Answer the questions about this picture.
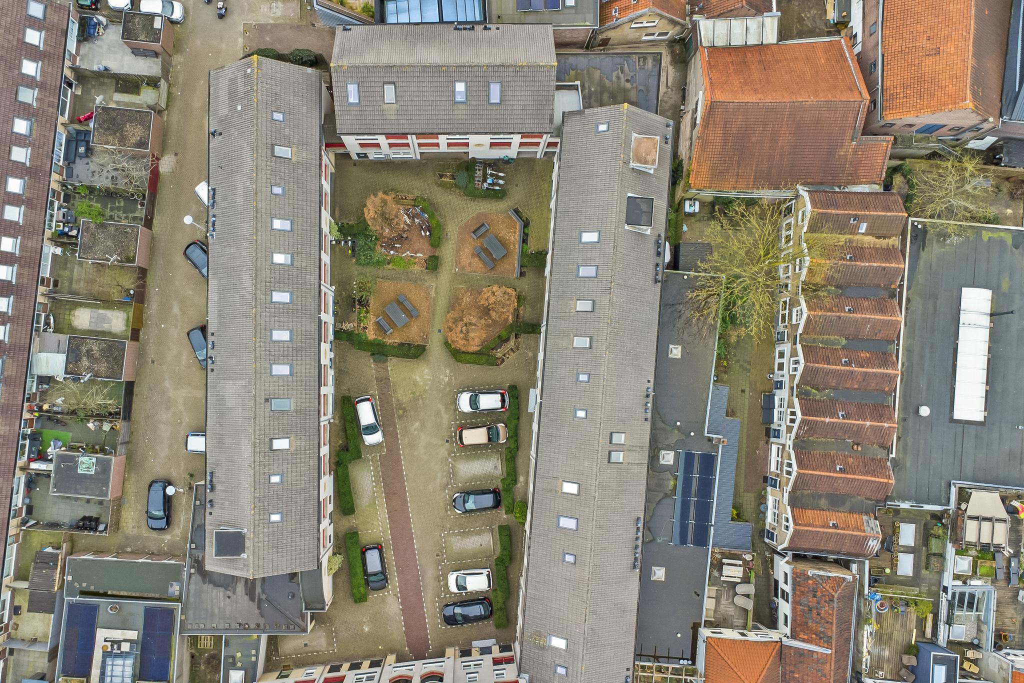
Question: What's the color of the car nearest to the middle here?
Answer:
white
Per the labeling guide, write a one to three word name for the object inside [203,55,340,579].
building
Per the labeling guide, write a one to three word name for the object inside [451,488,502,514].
car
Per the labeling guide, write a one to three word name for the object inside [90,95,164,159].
shed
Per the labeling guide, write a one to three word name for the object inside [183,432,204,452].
car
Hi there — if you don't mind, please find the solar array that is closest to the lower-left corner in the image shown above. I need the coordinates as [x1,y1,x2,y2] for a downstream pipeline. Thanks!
[60,602,98,676]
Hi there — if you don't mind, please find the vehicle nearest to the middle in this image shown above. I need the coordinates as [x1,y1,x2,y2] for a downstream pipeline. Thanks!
[457,389,509,415]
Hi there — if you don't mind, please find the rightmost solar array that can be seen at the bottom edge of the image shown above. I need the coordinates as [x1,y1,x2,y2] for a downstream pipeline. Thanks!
[138,605,175,681]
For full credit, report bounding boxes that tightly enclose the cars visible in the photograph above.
[187,324,205,374]
[457,389,509,415]
[186,238,205,279]
[183,432,204,452]
[109,0,133,14]
[135,0,187,26]
[195,179,206,205]
[457,423,508,447]
[356,395,382,447]
[451,488,502,514]
[442,597,494,626]
[77,0,103,13]
[362,544,388,589]
[145,479,173,530]
[447,569,494,594]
